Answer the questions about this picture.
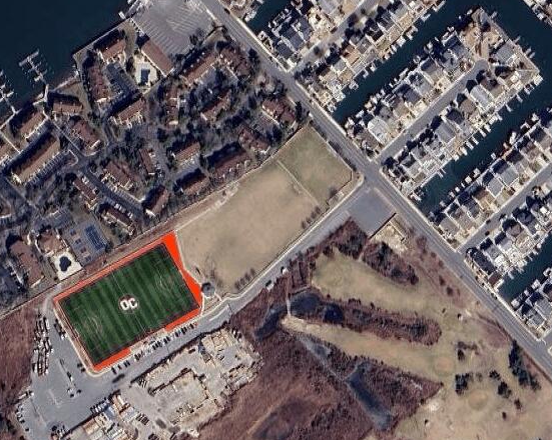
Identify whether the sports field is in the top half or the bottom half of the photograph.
bottom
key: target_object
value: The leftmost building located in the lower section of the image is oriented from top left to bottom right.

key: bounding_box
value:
[8,242,48,289]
